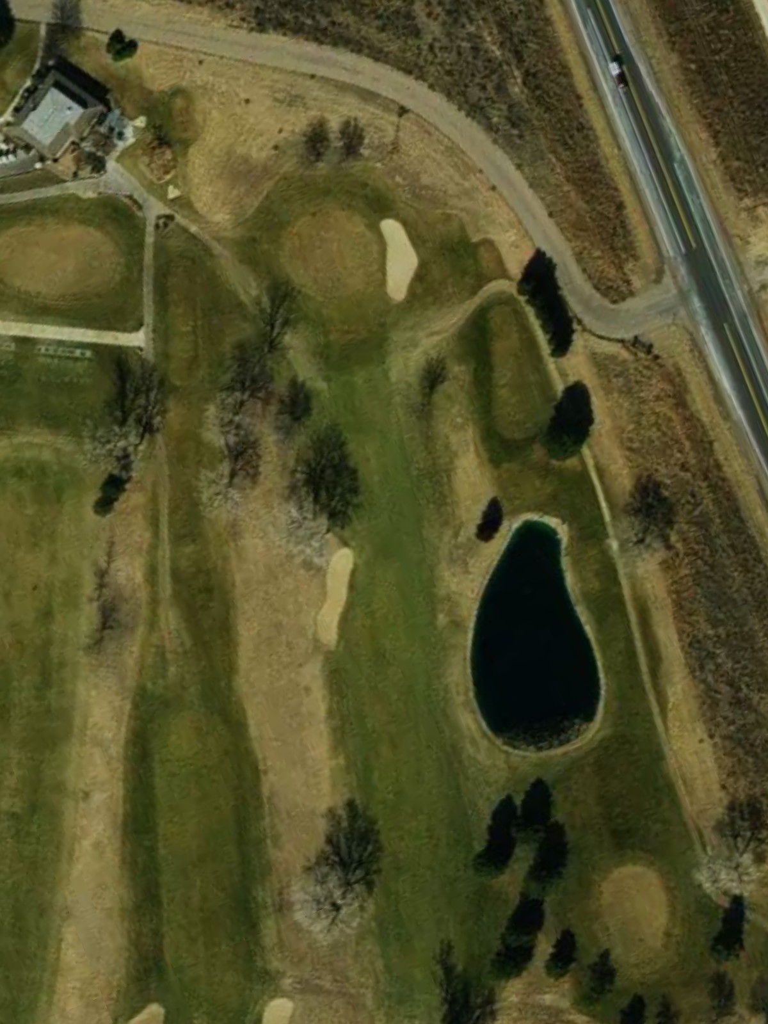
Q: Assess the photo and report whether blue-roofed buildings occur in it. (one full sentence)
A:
No, no blue-roofed building can be seen from above.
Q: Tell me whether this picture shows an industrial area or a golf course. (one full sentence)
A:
This looks like a golf course.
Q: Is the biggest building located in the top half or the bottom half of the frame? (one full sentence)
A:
The biggest building sits in the top half of the picture.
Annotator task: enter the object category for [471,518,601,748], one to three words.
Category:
pond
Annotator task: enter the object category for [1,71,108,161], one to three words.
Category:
building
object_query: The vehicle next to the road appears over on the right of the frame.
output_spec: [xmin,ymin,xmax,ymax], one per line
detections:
[609,58,625,87]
